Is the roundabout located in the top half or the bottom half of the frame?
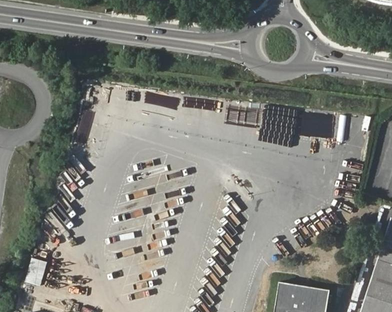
top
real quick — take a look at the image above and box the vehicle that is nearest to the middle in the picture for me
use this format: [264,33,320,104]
[166,168,189,180]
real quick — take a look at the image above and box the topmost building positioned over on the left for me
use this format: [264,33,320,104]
[26,259,46,286]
